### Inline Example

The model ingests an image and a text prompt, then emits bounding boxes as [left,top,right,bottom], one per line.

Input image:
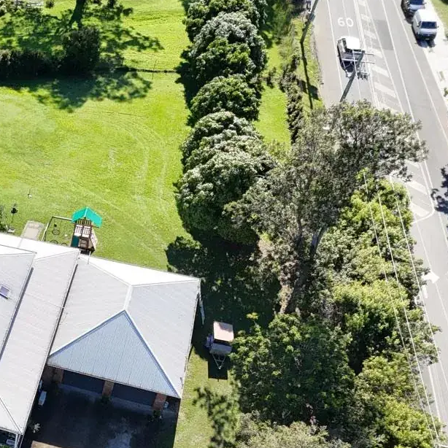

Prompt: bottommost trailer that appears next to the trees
[199,315,237,372]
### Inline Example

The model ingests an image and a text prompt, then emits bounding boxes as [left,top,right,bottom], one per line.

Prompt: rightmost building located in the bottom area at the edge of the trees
[47,253,199,414]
